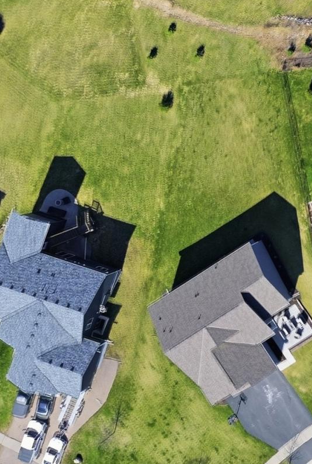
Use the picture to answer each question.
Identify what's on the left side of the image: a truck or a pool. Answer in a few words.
truck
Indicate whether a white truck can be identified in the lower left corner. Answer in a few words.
Yes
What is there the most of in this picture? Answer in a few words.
grass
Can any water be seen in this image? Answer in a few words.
No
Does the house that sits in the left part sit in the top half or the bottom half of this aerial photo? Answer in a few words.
bottom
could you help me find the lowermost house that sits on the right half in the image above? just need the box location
[148,242,298,406]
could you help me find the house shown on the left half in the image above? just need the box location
[0,211,126,396]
